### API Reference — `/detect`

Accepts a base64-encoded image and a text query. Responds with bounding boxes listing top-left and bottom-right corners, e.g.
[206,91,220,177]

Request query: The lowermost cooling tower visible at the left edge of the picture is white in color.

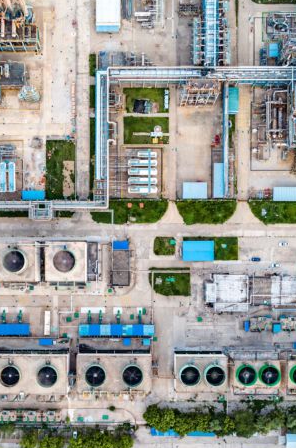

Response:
[0,351,69,395]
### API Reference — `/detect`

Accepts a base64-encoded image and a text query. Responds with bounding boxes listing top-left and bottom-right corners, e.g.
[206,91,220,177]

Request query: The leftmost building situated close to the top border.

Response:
[95,0,120,27]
